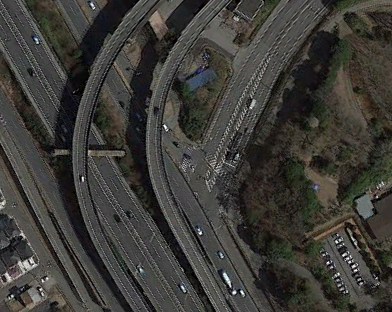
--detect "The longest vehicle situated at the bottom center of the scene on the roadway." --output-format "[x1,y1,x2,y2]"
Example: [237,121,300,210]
[220,269,237,296]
